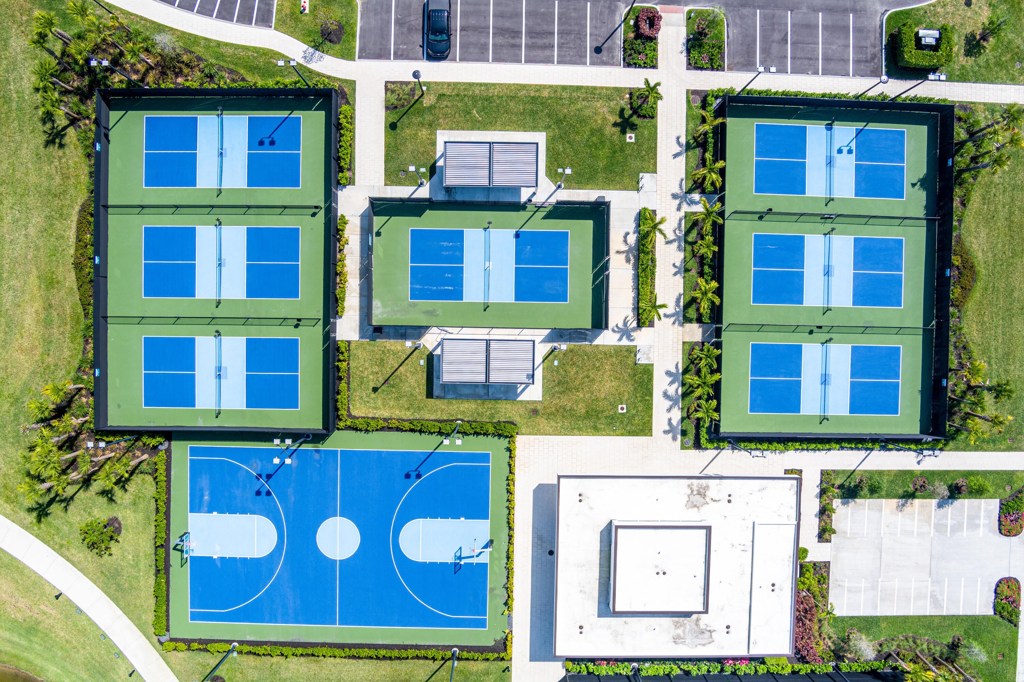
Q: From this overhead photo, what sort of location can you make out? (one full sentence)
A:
The picture captures a sports ground.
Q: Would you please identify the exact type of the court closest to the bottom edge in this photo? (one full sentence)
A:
Specifically, the court closest to the bottom edge is a basketball court.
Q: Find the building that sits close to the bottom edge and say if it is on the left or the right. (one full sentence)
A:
The building that sits close to the bottom edge sits on the right side.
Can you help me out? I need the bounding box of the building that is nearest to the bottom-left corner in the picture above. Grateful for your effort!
[440,338,535,385]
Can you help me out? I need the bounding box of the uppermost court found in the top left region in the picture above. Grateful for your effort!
[109,96,338,209]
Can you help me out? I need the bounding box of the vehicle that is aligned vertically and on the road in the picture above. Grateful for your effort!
[425,0,453,60]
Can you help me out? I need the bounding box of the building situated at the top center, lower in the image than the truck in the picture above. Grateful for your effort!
[444,141,538,193]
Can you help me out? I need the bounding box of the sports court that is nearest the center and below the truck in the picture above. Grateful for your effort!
[373,202,606,328]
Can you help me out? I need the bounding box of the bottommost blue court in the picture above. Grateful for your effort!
[170,431,509,646]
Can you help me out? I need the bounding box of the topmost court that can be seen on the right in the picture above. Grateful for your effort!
[718,104,939,221]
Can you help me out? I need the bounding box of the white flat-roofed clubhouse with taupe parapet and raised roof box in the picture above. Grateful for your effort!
[553,473,802,658]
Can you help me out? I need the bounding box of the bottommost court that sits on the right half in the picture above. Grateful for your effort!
[713,325,934,434]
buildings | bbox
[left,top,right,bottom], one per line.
[440,338,535,385]
[444,141,538,193]
[553,473,802,658]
